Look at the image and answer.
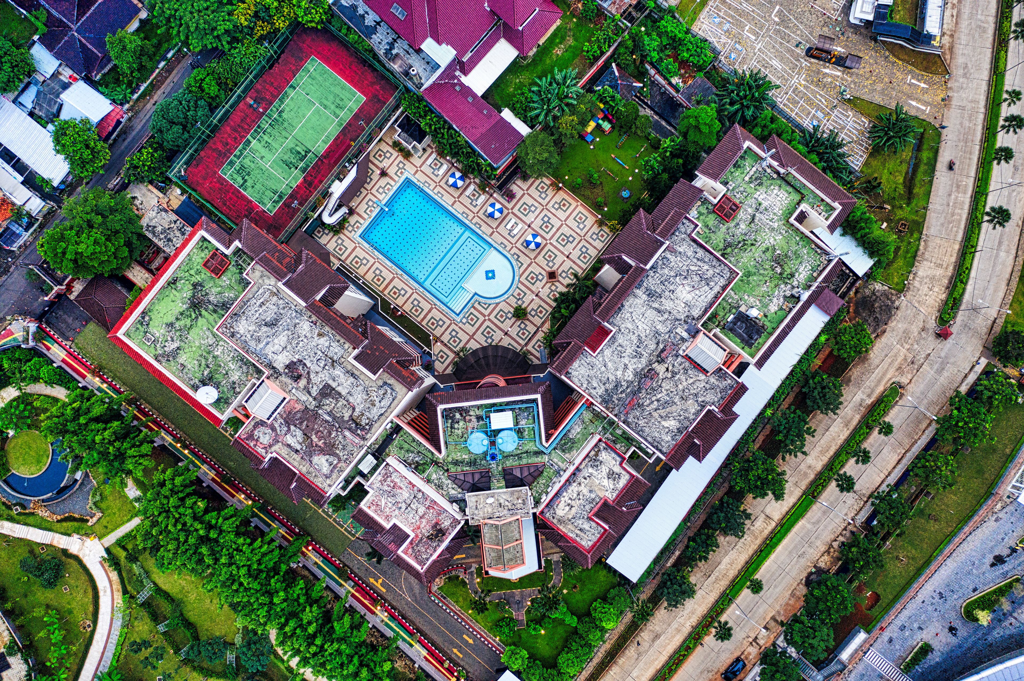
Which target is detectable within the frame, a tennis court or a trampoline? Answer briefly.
tennis court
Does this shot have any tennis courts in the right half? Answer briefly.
No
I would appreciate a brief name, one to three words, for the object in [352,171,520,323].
swimming pool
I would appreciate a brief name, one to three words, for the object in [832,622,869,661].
house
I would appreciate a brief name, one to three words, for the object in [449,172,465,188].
umbrella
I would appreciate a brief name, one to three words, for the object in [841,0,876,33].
building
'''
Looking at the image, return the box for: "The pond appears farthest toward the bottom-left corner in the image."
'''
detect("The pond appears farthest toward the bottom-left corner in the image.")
[0,425,83,508]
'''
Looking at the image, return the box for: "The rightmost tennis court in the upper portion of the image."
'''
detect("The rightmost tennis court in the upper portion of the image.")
[184,22,404,239]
